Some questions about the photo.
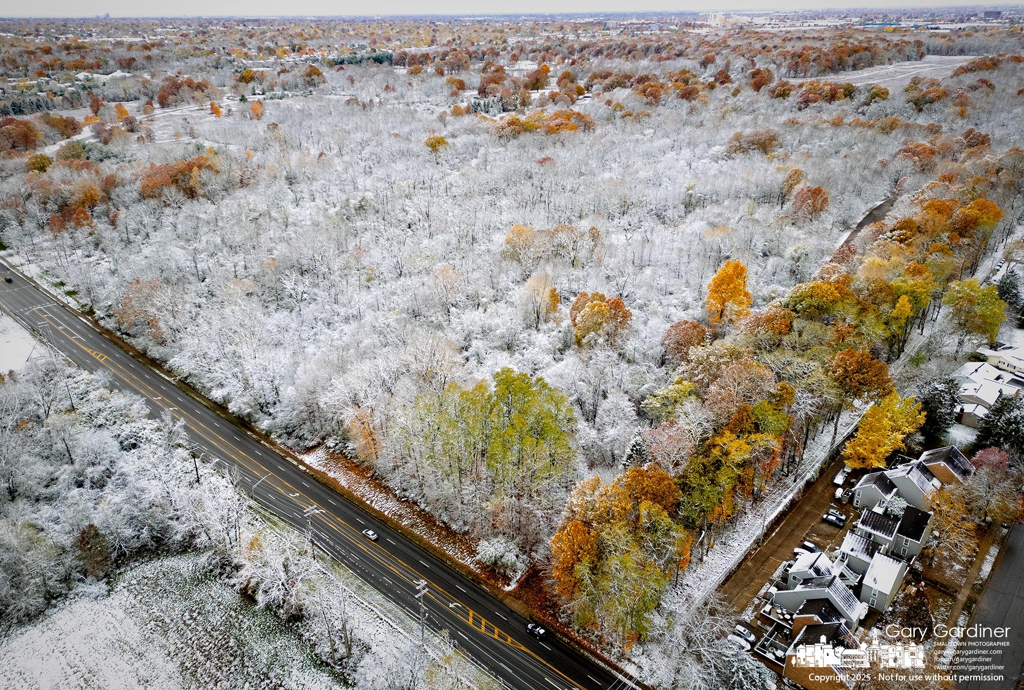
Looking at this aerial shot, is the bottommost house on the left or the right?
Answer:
right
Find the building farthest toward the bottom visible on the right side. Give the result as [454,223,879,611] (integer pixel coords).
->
[783,622,867,690]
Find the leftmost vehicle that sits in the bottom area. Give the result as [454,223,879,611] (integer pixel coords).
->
[361,526,378,538]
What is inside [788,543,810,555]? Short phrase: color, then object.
white vehicle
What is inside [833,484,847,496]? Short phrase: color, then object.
white vehicle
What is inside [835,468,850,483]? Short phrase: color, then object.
white car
